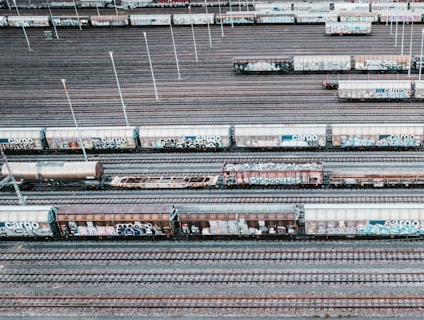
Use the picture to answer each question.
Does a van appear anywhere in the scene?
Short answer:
Yes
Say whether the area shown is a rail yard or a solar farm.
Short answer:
rail yard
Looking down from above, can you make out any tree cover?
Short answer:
No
